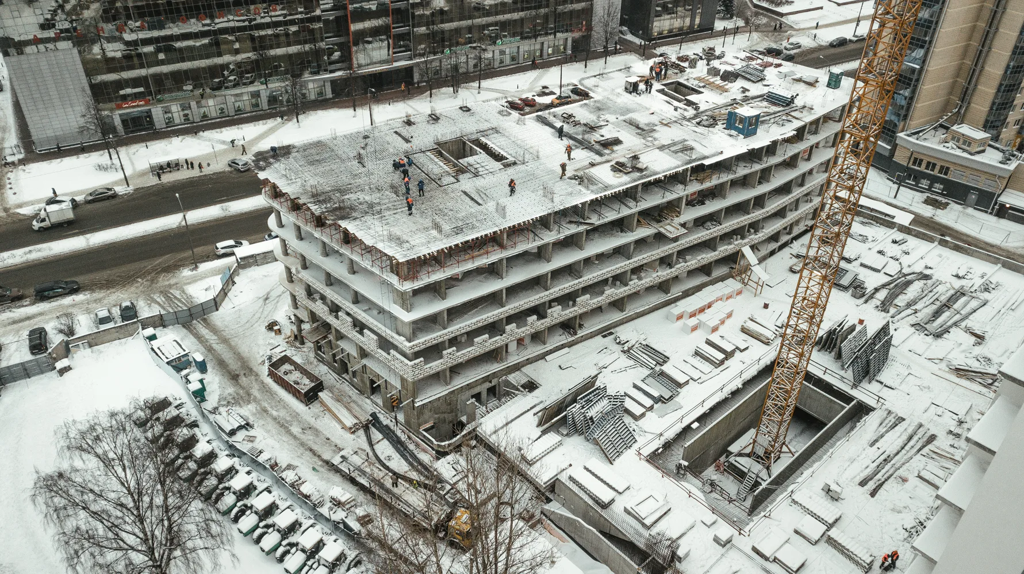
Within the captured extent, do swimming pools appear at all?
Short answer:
No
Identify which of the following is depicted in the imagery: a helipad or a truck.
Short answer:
truck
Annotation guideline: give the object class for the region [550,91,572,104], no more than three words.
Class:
vehicle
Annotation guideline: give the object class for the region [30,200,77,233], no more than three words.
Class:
truck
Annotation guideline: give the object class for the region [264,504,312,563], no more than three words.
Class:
work vehicle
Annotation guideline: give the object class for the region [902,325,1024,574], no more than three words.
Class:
building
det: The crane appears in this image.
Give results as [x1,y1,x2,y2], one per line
[726,0,923,493]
